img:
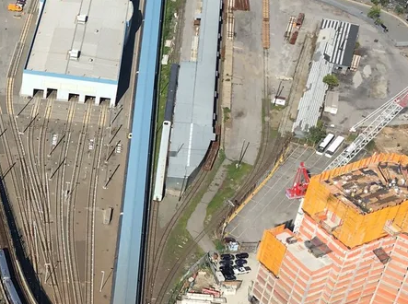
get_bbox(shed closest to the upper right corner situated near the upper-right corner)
[317,18,359,77]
